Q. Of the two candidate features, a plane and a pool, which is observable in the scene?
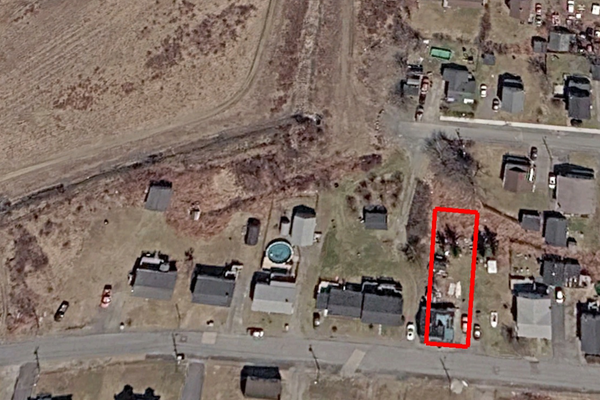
pool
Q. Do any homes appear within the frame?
Yes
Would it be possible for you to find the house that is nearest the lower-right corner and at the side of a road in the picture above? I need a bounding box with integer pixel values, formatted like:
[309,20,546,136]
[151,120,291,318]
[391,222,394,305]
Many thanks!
[574,301,600,365]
